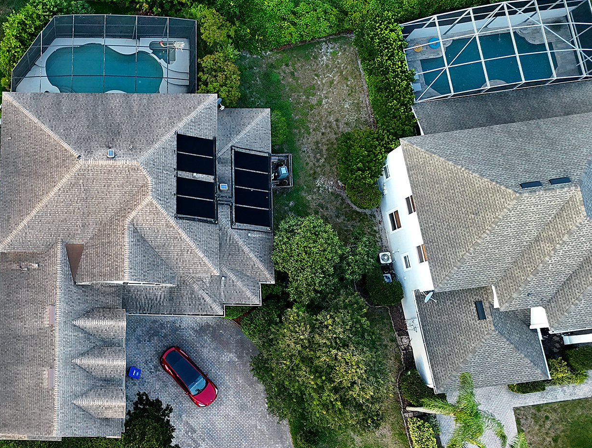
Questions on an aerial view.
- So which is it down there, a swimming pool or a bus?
swimming pool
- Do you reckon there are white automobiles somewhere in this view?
No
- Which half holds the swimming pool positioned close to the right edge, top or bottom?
top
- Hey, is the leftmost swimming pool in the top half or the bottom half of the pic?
top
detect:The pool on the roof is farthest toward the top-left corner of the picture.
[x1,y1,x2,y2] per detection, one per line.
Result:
[17,35,192,94]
